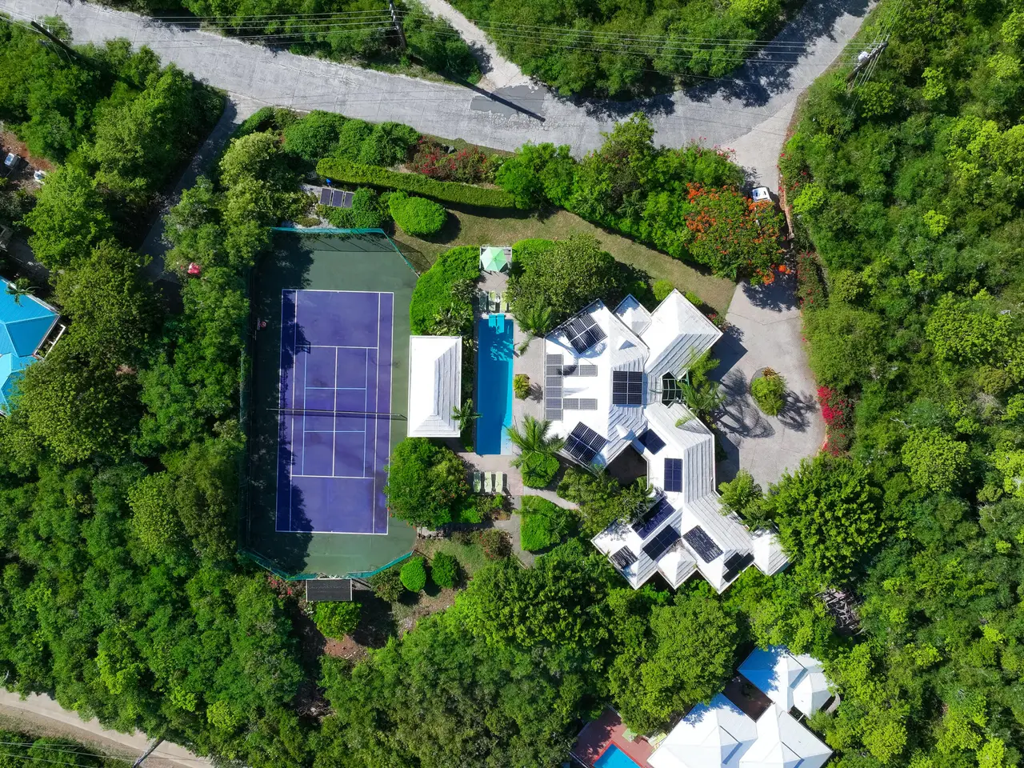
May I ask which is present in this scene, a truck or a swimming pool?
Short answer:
swimming pool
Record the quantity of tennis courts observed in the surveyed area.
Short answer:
1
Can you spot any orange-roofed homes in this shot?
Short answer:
No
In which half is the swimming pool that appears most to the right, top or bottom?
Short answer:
bottom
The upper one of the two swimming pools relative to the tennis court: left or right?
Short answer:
on its right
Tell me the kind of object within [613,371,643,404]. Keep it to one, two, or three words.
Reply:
solar array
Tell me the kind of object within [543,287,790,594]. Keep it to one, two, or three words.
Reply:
house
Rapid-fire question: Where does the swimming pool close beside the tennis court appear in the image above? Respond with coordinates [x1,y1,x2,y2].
[473,312,517,459]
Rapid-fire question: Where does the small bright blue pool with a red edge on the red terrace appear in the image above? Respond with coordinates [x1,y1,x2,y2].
[590,740,648,768]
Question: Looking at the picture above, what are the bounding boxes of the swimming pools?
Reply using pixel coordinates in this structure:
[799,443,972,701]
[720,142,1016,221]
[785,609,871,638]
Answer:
[473,312,517,459]
[590,740,648,768]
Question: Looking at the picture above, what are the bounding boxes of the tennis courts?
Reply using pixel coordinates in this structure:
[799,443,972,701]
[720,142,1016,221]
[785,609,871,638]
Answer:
[250,234,421,574]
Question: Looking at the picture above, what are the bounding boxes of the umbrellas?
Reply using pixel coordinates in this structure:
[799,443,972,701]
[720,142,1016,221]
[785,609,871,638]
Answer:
[480,247,508,272]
